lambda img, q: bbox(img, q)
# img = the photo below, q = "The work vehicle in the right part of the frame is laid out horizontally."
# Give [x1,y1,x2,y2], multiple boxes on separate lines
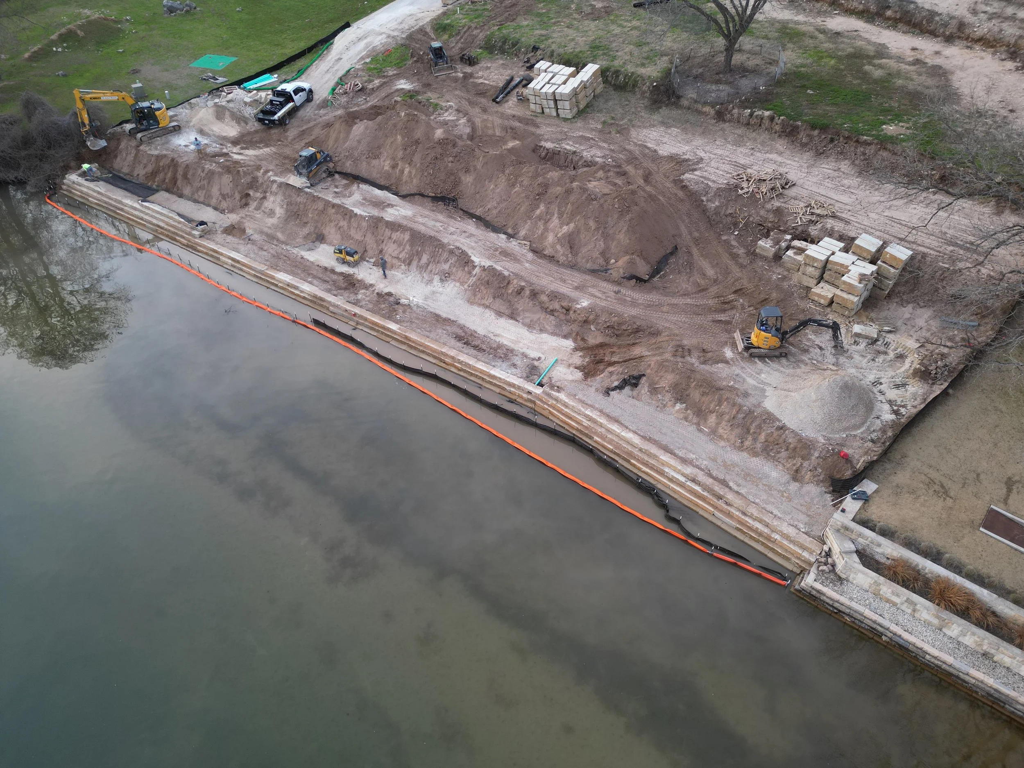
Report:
[728,303,847,359]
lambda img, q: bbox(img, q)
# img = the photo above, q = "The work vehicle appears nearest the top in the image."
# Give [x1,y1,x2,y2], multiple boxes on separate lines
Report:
[421,39,457,75]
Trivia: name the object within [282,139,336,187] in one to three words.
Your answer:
work vehicle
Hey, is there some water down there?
Yes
